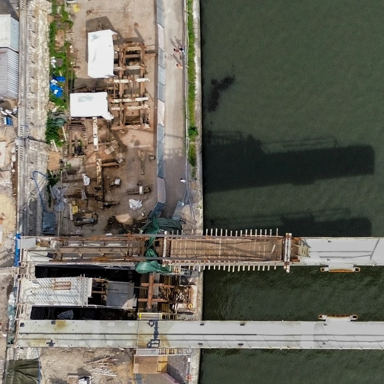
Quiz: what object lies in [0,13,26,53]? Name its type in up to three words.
building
